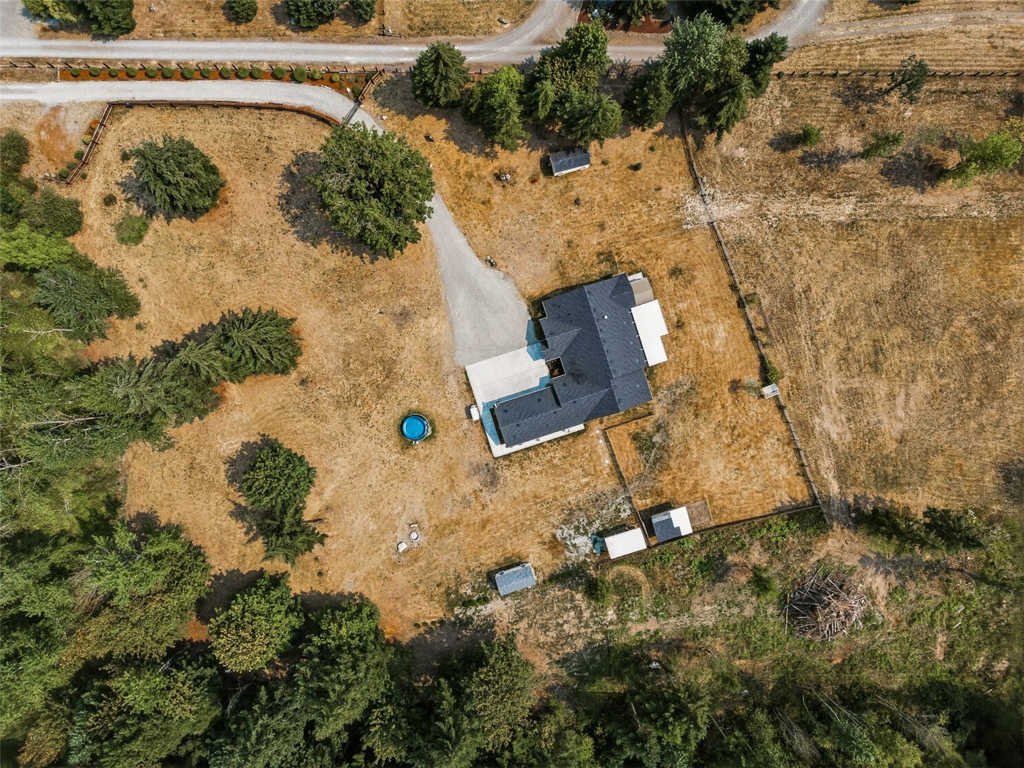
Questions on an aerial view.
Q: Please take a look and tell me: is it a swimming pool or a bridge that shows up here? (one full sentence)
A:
The image shows a swimming pool.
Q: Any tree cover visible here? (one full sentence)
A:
Yes, tree cover shows up in the scene.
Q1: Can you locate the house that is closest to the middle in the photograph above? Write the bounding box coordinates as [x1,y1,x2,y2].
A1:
[495,272,653,448]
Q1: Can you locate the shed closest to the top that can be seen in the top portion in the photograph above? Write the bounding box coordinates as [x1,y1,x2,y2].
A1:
[551,146,593,178]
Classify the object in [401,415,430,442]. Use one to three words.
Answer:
swimming pool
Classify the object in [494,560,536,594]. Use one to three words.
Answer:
shed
